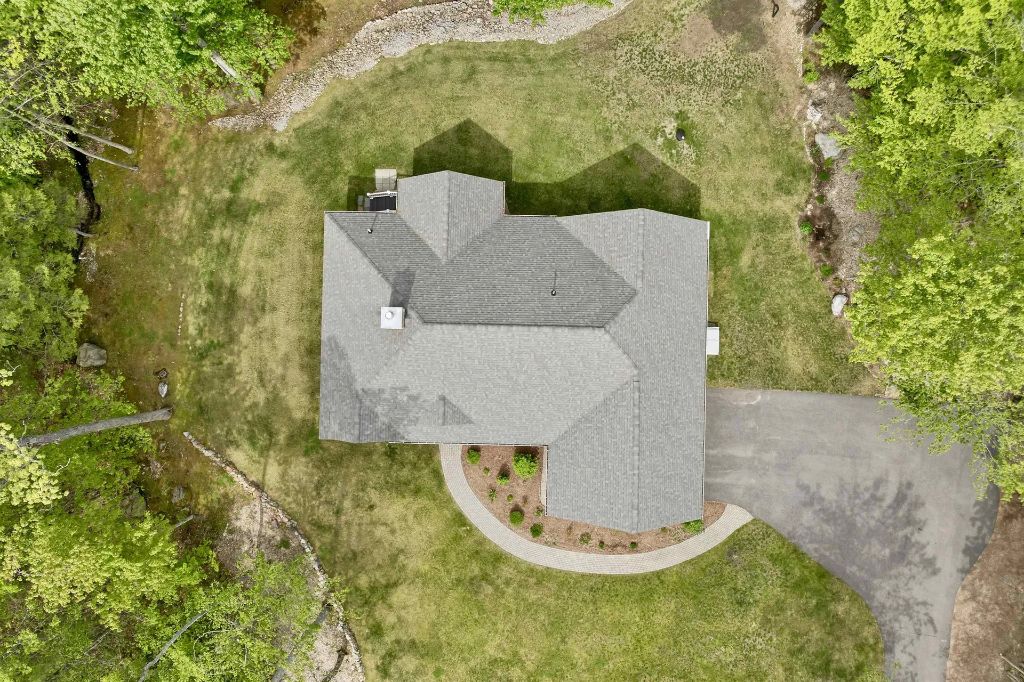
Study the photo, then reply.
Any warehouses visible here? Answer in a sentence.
No, this view has no warehouse in it.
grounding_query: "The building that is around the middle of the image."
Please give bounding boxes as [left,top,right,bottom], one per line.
[319,171,719,533]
